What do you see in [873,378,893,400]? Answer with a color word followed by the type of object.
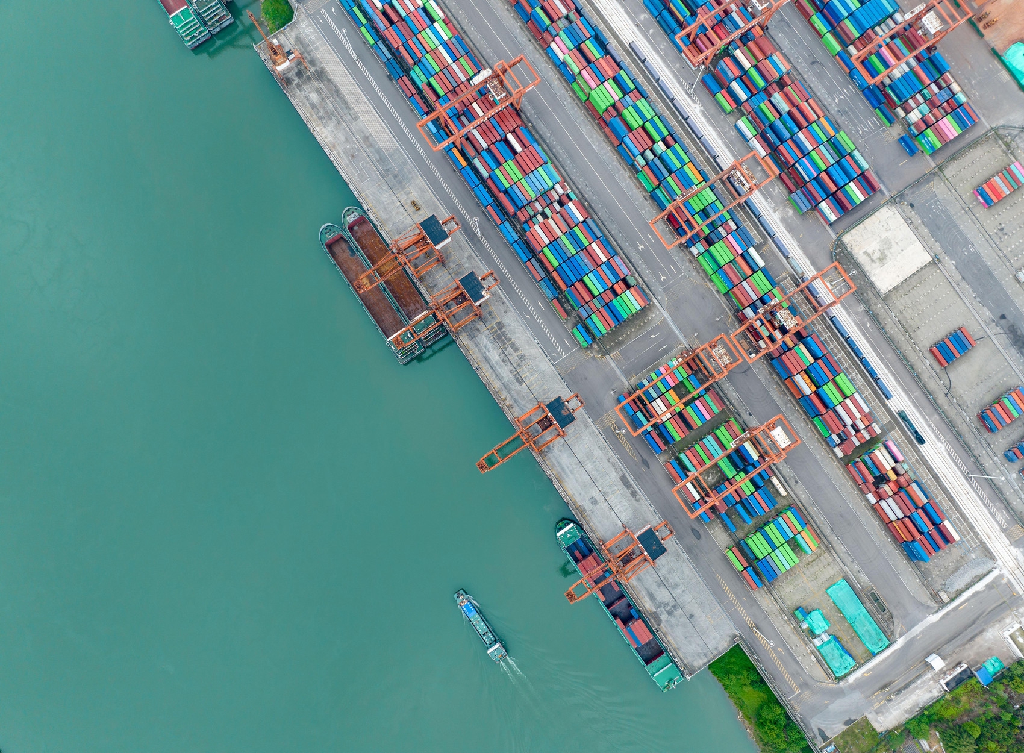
blue rail car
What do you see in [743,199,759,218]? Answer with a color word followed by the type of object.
blue rail car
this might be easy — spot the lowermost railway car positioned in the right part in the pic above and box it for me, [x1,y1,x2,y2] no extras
[895,408,926,445]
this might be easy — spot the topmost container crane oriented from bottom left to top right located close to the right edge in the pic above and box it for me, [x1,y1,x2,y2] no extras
[850,0,978,88]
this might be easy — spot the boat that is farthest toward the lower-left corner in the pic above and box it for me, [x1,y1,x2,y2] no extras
[453,587,509,663]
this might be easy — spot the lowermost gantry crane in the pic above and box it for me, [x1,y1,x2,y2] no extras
[565,521,674,603]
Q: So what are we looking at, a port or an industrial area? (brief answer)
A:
port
